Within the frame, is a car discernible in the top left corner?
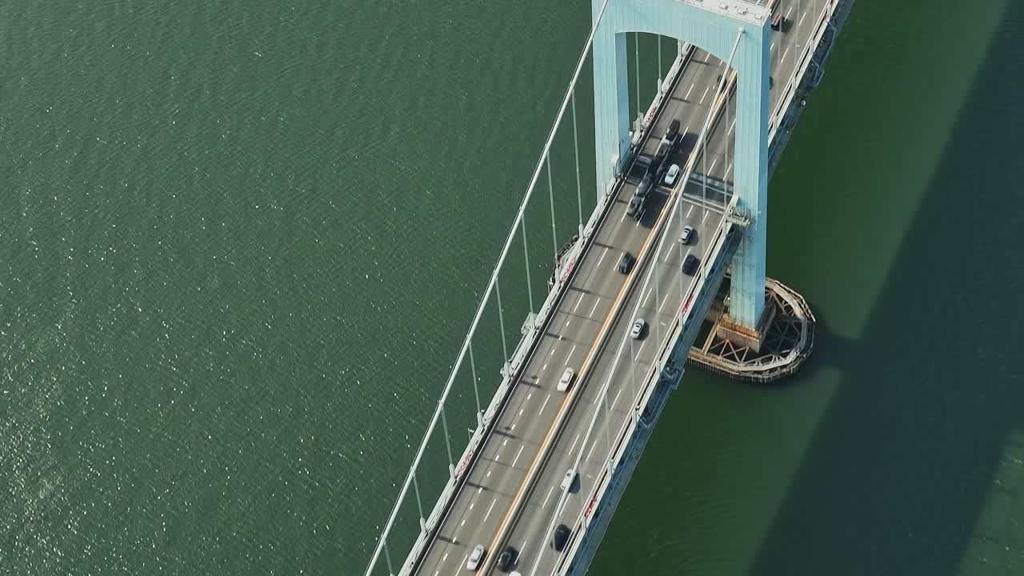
No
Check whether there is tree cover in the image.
No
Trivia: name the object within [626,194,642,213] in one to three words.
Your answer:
car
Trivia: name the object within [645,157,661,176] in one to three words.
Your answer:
car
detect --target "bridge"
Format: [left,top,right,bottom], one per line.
[363,0,858,576]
